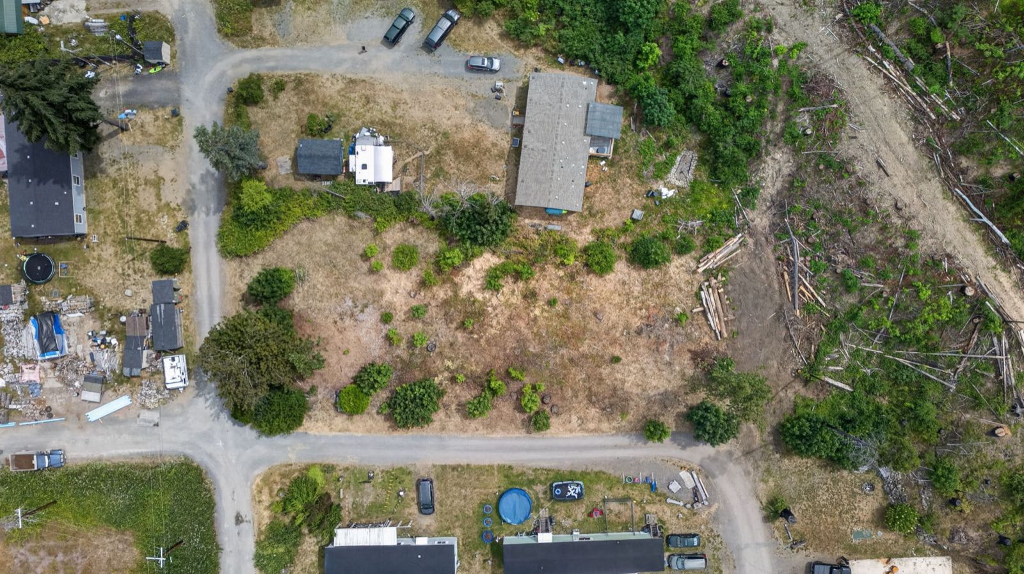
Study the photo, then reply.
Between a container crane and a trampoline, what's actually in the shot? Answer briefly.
trampoline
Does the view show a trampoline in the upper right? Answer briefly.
No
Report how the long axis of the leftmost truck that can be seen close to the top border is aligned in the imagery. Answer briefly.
on a diagonal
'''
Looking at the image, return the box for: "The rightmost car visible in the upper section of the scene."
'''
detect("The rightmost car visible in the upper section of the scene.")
[467,54,502,72]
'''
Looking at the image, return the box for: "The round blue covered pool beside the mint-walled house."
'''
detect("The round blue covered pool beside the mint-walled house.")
[498,490,533,526]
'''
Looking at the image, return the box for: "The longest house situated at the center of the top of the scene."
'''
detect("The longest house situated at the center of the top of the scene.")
[516,72,597,212]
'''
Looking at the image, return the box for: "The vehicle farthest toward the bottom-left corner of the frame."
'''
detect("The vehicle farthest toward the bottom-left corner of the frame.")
[2,451,63,473]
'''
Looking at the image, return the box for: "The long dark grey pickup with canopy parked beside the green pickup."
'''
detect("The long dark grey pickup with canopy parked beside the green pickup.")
[423,7,459,50]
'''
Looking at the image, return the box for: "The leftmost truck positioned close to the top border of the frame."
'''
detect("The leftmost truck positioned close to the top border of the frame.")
[382,7,414,46]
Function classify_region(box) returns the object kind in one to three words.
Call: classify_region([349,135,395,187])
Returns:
vehicle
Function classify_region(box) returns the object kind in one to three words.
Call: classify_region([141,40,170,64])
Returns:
shed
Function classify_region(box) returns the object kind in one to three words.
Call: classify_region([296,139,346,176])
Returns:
shed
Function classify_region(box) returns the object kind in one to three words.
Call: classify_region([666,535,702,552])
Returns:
car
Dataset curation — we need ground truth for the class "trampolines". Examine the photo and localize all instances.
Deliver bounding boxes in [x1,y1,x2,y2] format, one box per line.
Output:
[19,253,53,284]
